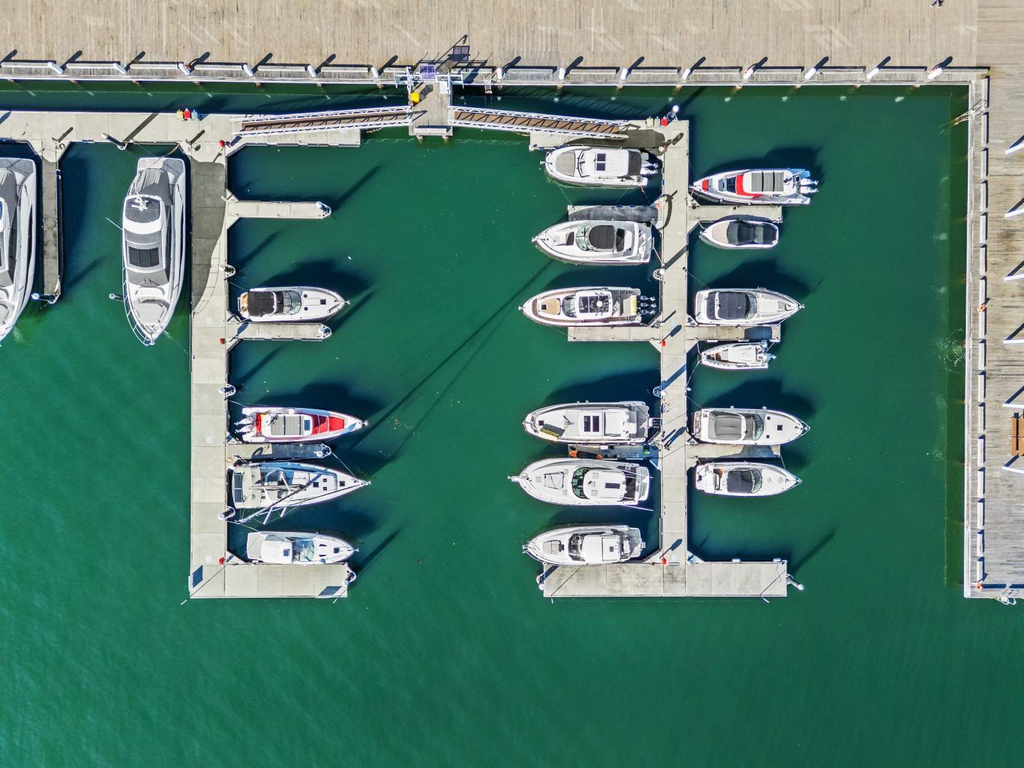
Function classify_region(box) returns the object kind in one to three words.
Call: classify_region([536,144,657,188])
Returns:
boat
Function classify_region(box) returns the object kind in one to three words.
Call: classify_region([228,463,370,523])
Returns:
boat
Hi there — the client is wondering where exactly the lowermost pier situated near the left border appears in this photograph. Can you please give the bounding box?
[0,111,361,598]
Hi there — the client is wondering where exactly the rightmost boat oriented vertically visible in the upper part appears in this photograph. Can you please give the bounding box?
[106,158,190,343]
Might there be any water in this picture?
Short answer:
Yes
